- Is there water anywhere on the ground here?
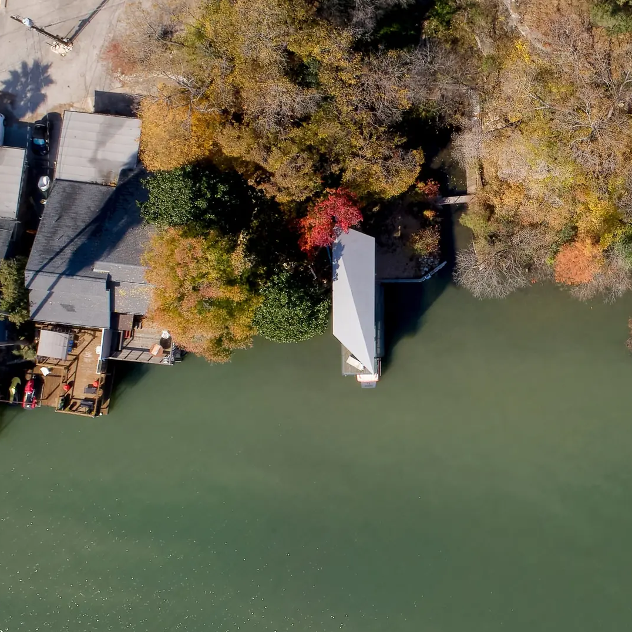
Yes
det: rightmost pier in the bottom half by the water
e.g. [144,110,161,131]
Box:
[25,367,62,407]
